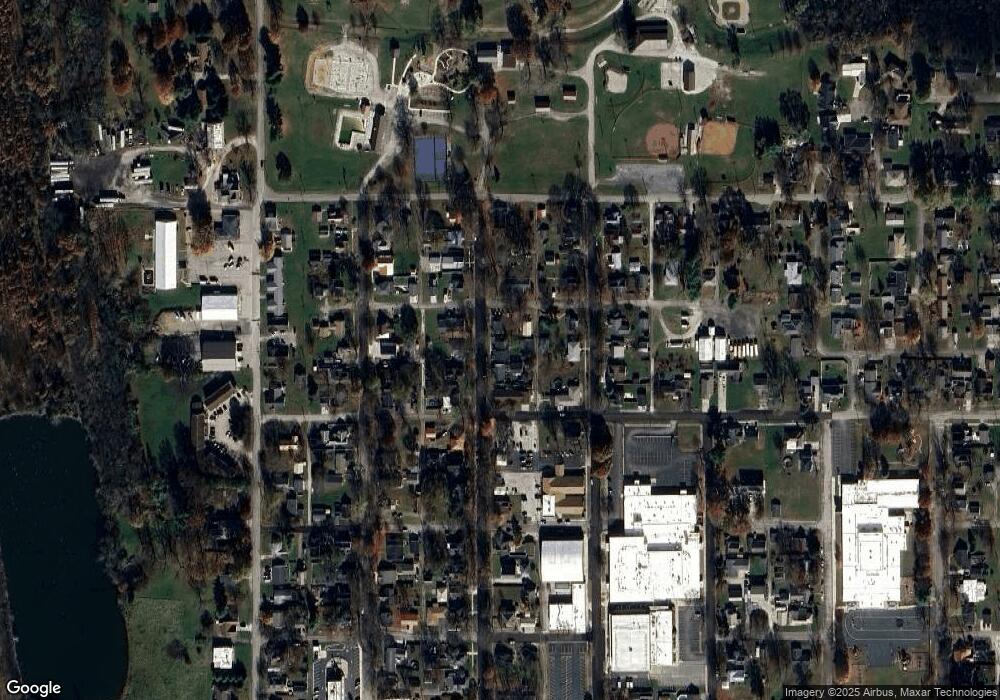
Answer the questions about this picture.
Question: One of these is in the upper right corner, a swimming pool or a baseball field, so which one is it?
baseball field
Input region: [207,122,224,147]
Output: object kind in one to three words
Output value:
barn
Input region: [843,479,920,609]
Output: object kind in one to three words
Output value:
building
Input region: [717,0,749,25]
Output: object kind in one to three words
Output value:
baseball field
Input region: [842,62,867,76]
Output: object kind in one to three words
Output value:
house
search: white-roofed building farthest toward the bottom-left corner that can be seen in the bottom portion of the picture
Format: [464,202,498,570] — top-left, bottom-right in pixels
[213,647,232,669]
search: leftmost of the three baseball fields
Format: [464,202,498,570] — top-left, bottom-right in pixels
[646,122,682,159]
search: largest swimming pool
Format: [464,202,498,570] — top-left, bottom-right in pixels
[334,108,366,150]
